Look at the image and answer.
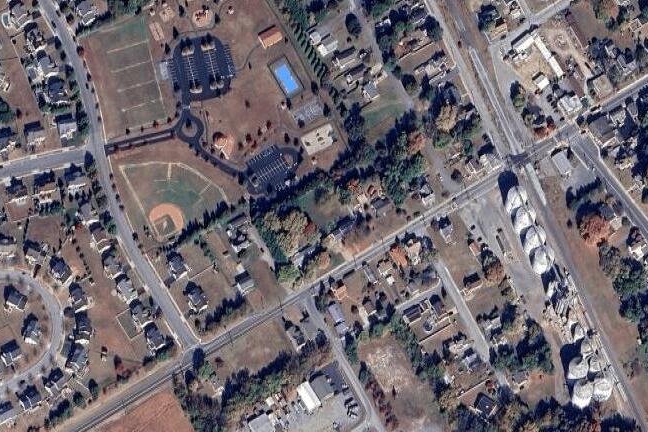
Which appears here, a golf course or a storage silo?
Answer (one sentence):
There is a storage silo in the scene.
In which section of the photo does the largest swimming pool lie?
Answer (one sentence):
The largest swimming pool is in the top part of the image.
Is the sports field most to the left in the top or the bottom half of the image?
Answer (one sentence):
It is in the top half that the sports field most to the left appears.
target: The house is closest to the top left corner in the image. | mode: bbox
[8,0,33,23]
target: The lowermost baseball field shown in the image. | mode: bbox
[122,161,230,243]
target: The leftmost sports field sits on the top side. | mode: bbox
[83,15,169,138]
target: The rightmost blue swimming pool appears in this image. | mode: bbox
[268,55,304,95]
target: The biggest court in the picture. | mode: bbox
[302,123,339,155]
